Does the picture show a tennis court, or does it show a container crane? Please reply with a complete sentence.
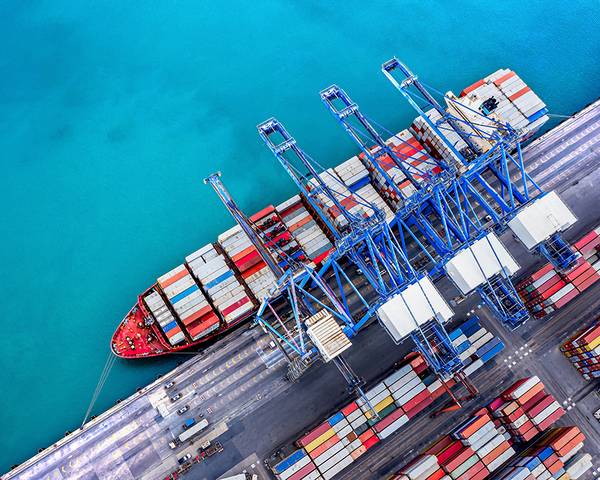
The one in the frame is a container crane.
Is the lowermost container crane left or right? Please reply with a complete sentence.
It is on the right.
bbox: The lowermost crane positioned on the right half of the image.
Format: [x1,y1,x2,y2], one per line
[401,348,482,425]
